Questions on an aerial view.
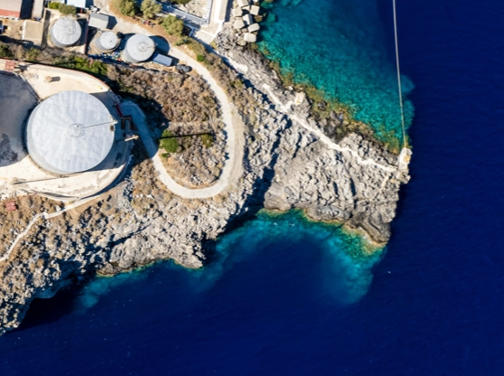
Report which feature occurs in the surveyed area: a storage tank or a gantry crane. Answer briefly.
storage tank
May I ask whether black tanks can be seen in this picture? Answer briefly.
No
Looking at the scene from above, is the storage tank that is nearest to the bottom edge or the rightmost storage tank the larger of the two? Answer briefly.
the storage tank that is nearest to the bottom edge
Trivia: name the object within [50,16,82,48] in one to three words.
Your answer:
storage tank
